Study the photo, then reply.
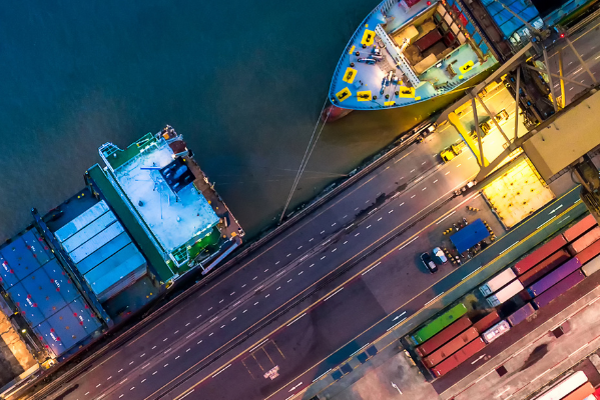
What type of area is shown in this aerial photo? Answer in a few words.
port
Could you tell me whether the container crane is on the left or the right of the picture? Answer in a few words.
right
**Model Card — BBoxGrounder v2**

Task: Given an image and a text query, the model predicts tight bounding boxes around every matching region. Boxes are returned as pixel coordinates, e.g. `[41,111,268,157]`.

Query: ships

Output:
[321,0,493,123]
[0,129,243,400]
